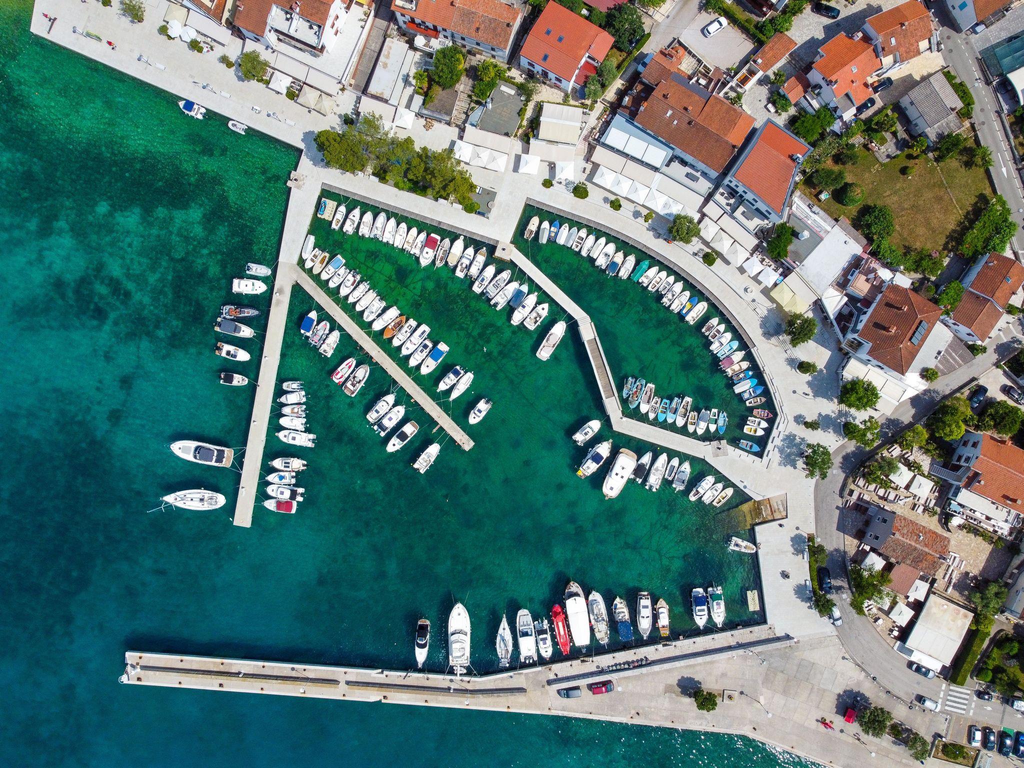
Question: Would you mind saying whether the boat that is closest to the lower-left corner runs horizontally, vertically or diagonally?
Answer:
horizontally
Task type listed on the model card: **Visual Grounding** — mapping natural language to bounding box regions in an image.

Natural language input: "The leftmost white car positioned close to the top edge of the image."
[703,16,728,40]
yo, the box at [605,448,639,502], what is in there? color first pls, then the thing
white boat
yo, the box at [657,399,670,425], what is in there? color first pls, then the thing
blue boat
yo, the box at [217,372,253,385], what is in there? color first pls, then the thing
white boat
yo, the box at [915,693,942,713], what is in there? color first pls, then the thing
white car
